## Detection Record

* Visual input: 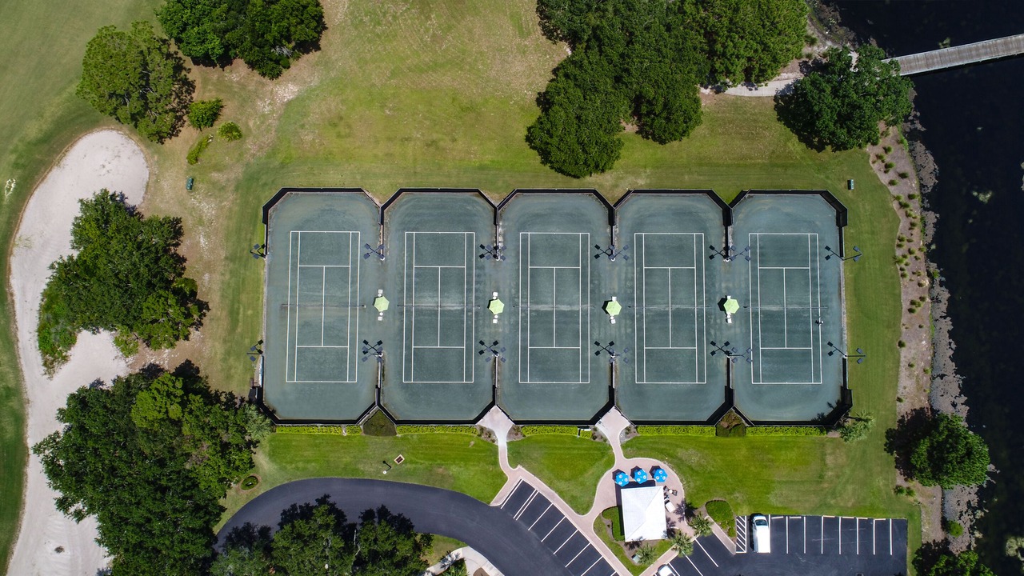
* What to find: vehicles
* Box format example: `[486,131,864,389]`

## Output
[753,516,770,554]
[664,499,677,514]
[660,563,679,576]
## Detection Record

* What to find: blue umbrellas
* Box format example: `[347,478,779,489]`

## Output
[654,470,667,482]
[634,470,647,483]
[616,472,629,486]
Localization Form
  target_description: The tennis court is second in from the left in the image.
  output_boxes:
[380,192,497,423]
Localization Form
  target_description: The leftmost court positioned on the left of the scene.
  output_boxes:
[263,191,382,422]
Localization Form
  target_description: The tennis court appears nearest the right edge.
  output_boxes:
[726,194,846,425]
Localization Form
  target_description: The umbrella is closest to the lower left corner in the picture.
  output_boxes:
[374,297,389,312]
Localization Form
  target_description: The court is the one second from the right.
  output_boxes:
[612,193,729,424]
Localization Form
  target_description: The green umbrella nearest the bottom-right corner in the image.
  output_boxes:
[722,298,738,314]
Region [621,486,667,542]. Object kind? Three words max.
building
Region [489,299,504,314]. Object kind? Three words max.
umbrella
